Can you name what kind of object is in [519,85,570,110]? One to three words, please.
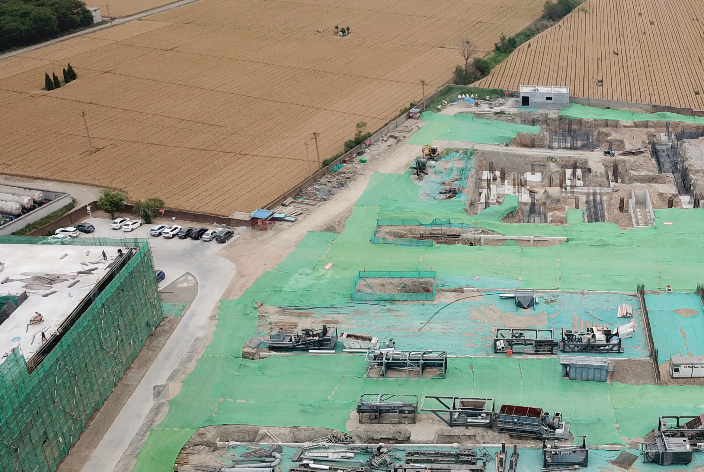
house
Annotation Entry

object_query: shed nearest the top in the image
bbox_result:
[83,5,104,26]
